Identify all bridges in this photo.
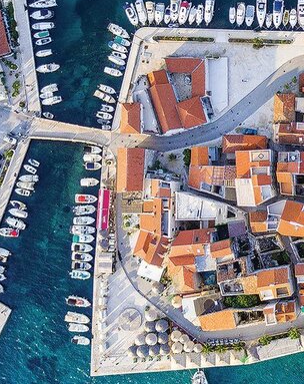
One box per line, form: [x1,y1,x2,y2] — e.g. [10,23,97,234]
[27,118,114,147]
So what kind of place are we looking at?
residential area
